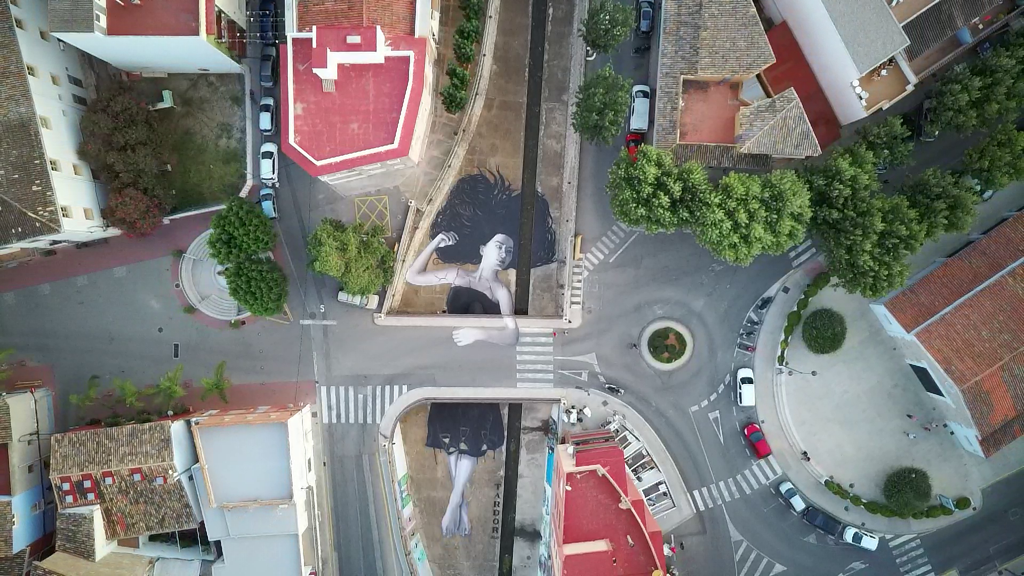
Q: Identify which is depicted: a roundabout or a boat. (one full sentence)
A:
It is a roundabout that can be seen here.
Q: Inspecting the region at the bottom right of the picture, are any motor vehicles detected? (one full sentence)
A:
Yes, the scene does show a motor vehicle at the bottom right of the picture.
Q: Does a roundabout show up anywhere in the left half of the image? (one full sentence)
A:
No, the scene shows no roundabout in the left half of the image.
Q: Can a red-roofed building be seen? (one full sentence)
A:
Yes, the image includes a red-roofed building.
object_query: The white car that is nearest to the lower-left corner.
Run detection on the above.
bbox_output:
[335,287,379,311]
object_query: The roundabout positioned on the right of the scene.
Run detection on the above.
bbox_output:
[640,317,694,371]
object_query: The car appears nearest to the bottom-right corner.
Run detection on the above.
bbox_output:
[841,524,882,552]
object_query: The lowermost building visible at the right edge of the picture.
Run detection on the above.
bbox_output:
[870,198,1024,460]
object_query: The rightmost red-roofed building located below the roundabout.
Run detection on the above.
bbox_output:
[553,419,666,576]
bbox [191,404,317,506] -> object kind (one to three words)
house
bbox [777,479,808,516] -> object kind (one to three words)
car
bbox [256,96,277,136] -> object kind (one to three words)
car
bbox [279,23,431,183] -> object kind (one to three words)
house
